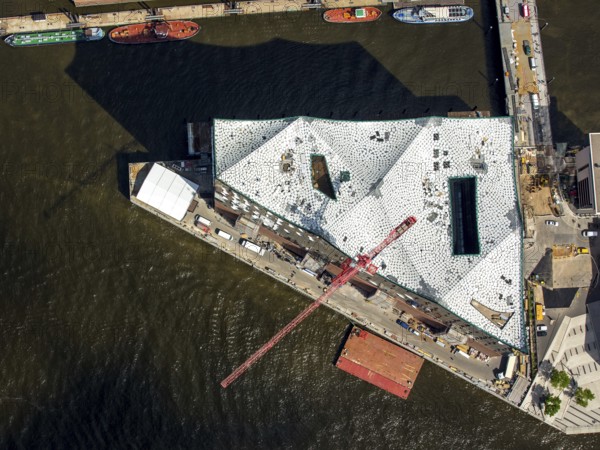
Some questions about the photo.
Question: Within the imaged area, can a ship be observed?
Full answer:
Yes, the image includes a ship.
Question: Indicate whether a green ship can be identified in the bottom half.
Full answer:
No, no green ship appears in the bottom half.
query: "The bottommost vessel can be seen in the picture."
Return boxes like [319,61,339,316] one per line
[336,358,410,399]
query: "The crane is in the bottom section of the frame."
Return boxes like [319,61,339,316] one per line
[217,215,413,386]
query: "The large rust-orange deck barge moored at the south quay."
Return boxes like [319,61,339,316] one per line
[339,326,424,388]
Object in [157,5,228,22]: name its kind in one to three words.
pier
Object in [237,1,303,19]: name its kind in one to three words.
pier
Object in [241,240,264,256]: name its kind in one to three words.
vehicle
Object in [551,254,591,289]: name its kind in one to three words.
building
